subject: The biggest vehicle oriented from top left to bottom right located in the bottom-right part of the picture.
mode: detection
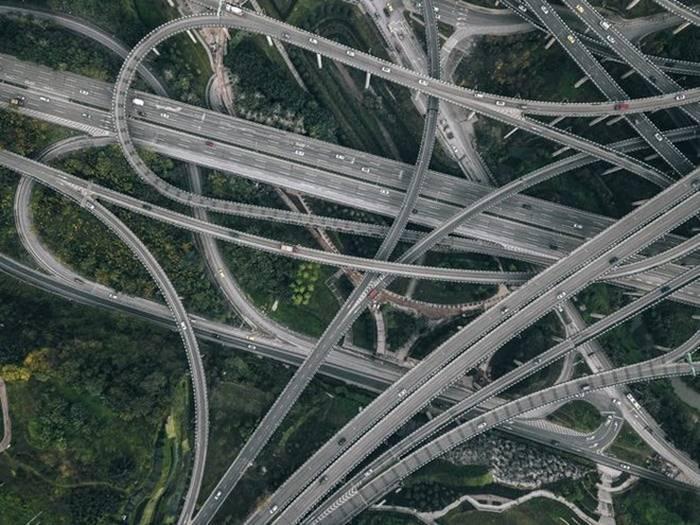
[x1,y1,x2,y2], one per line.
[628,395,646,416]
